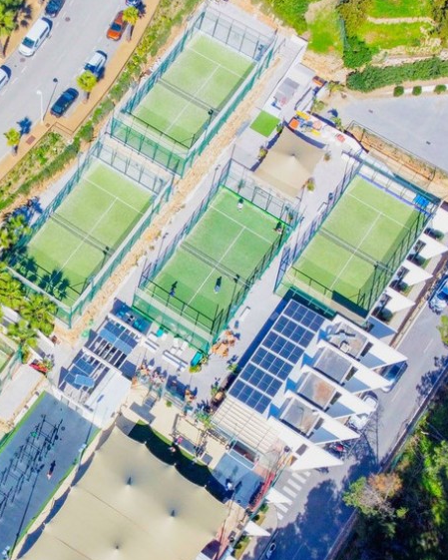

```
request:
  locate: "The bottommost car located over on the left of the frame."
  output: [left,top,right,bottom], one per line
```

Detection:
[50,84,80,117]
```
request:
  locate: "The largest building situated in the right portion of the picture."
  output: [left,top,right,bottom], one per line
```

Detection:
[224,299,408,471]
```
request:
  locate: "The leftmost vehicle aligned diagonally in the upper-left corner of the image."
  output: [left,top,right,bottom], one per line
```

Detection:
[20,15,50,52]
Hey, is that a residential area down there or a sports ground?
sports ground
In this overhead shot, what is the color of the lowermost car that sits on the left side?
blue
